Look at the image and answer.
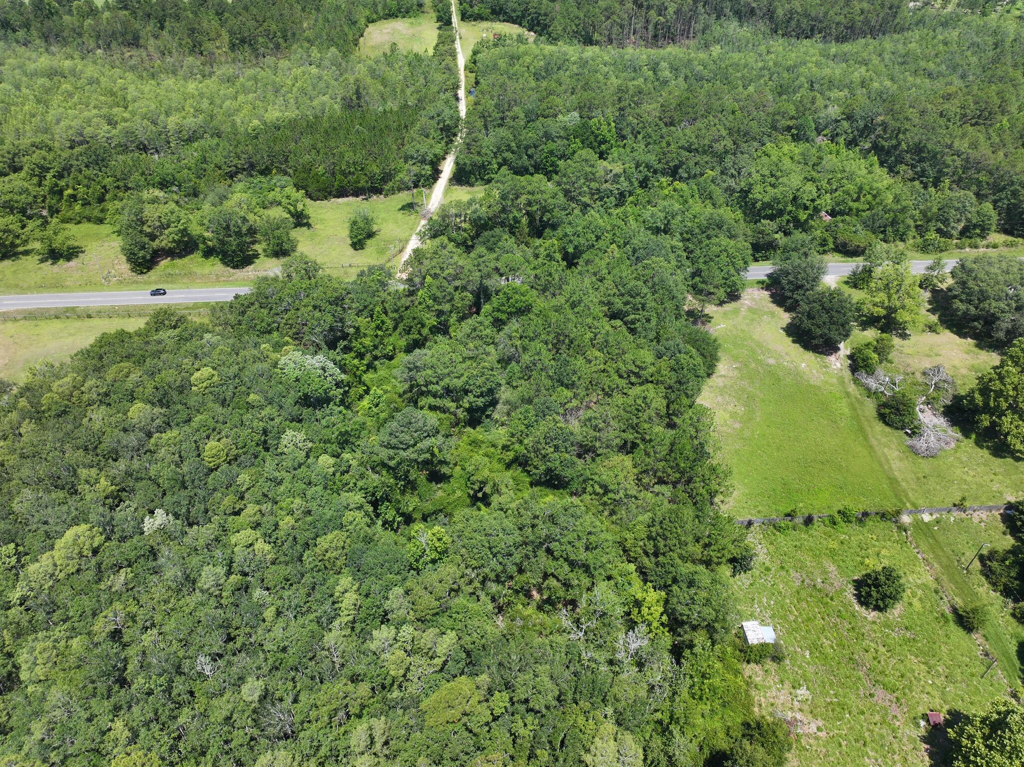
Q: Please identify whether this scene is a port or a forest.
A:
forest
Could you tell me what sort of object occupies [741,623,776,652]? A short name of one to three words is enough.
shed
